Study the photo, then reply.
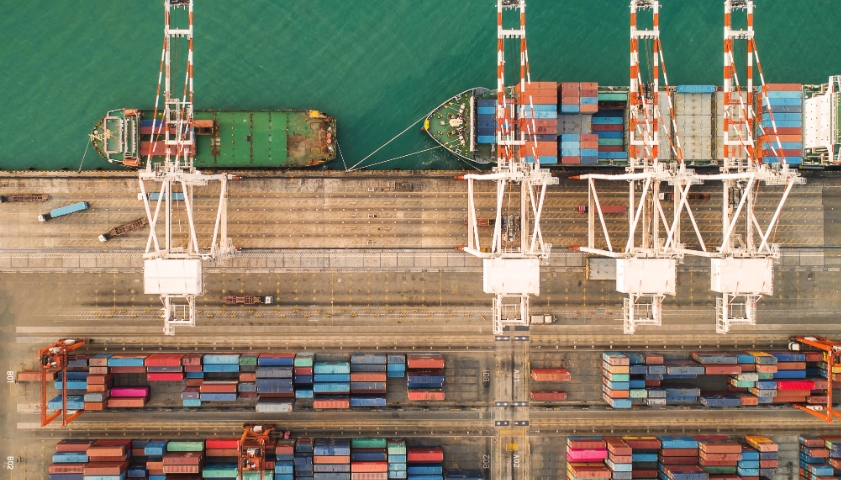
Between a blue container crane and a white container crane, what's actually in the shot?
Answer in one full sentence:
Visible in the photo is a white container crane.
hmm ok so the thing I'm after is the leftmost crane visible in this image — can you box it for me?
[35,340,91,431]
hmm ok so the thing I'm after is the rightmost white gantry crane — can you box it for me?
[659,0,807,337]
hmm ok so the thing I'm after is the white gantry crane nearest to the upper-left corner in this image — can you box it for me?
[137,0,246,339]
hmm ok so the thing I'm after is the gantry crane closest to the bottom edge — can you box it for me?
[234,423,278,480]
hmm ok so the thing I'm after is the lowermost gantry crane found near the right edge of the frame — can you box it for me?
[790,336,841,425]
